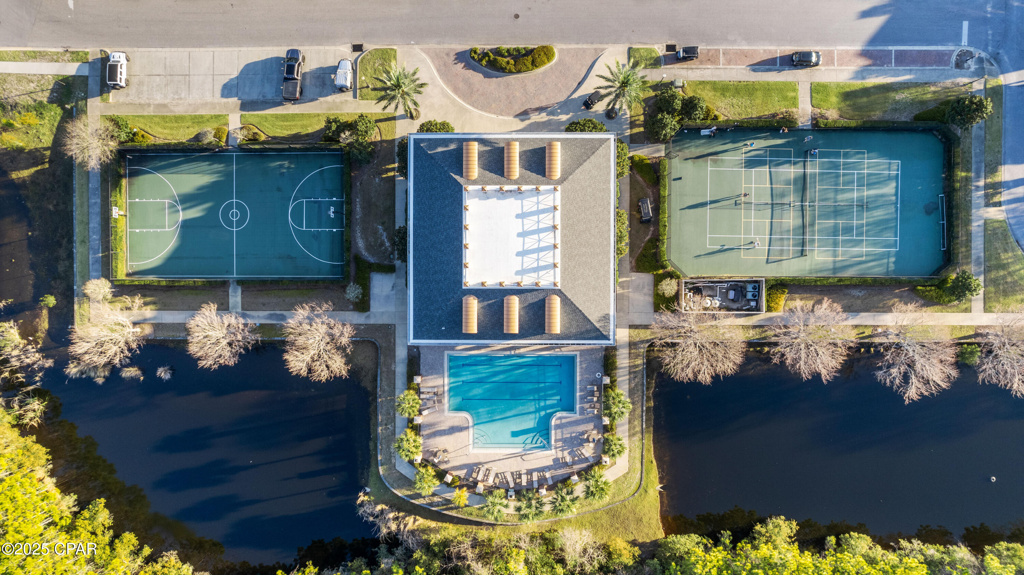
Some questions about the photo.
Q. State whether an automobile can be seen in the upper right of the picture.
Yes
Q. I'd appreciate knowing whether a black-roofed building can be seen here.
No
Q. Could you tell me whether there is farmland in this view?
No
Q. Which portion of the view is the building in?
center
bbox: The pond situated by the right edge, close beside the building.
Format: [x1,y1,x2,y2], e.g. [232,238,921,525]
[653,352,1024,547]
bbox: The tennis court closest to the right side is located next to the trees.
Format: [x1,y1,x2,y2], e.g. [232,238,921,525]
[665,128,944,276]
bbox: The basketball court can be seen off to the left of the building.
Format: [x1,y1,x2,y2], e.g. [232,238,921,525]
[125,148,346,280]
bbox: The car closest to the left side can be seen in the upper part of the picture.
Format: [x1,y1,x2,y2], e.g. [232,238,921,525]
[108,52,131,89]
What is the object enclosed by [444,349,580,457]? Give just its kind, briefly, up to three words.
swimming pool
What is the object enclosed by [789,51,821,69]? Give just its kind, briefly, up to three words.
car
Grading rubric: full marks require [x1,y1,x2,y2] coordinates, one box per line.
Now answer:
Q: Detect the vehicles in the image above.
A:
[579,91,601,111]
[677,45,700,61]
[637,197,652,220]
[283,51,305,103]
[336,61,356,96]
[108,52,131,89]
[789,51,821,69]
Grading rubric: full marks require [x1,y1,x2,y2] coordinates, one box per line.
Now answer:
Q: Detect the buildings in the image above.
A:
[408,133,616,345]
